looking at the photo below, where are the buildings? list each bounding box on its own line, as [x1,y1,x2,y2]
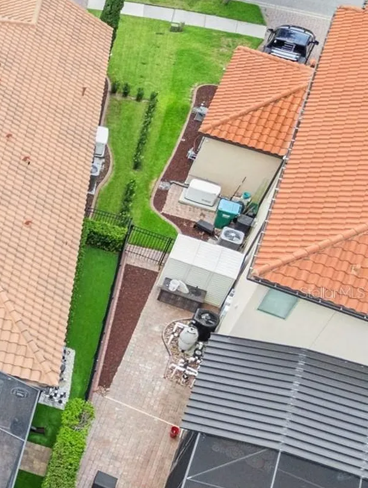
[186,1,368,405]
[0,0,117,422]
